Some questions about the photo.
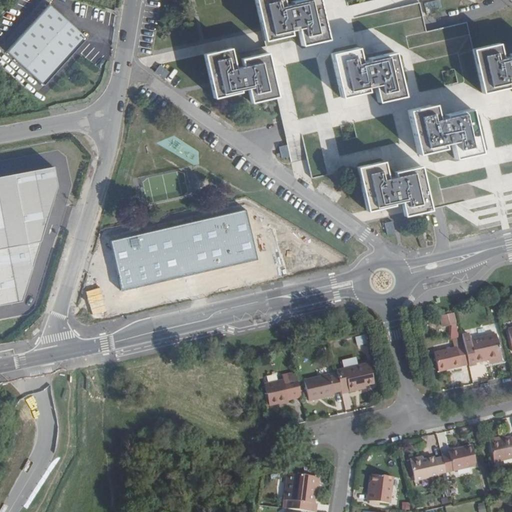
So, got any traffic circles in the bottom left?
No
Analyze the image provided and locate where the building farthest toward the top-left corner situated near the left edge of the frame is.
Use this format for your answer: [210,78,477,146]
[9,5,84,84]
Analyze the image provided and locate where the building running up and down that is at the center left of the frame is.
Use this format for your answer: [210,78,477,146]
[0,167,59,306]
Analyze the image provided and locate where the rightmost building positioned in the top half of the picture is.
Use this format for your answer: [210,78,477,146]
[472,44,512,94]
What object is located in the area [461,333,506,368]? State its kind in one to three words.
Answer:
house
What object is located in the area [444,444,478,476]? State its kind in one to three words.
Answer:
house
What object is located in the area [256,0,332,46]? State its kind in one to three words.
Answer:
building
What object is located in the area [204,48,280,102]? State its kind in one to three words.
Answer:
building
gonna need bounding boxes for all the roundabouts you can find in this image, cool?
[356,254,410,308]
